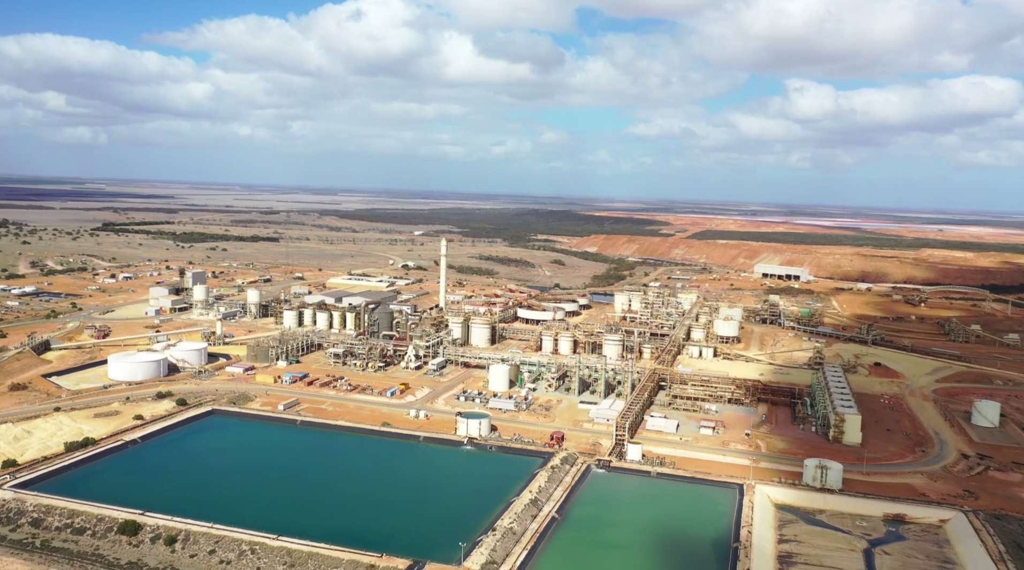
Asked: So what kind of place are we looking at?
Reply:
industrial area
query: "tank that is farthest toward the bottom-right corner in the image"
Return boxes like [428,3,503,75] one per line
[970,396,1007,429]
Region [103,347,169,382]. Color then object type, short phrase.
white storage tank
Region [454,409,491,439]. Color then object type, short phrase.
white storage tank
